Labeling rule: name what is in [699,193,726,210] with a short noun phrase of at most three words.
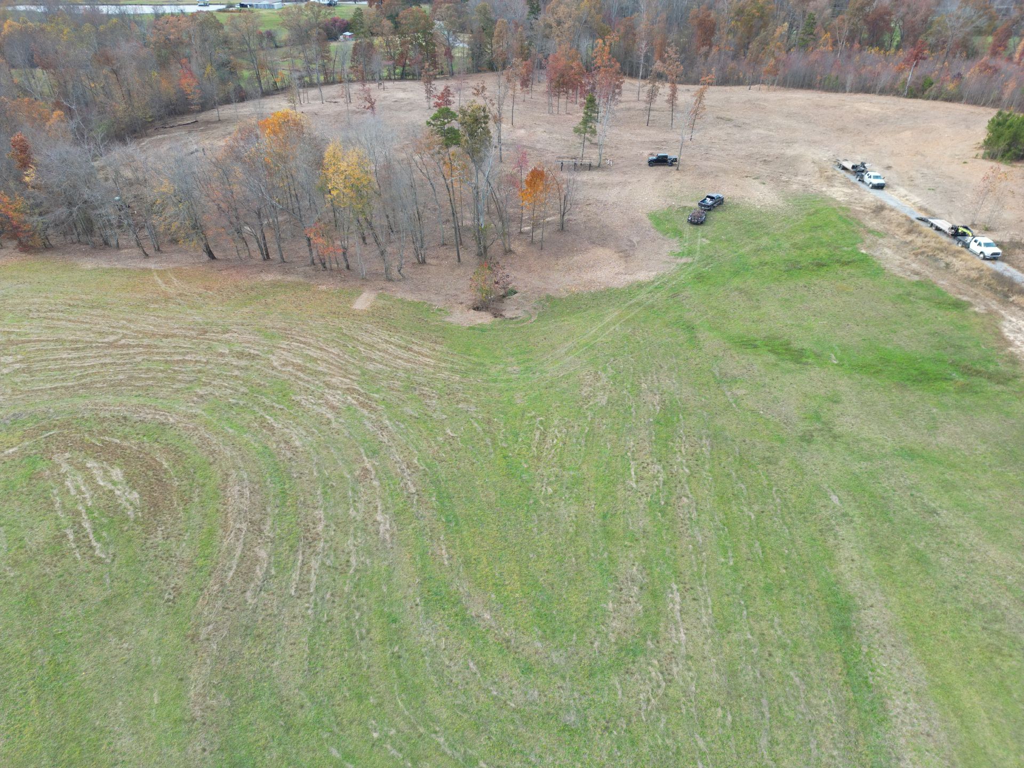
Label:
vehicle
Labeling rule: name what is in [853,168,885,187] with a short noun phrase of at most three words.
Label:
vehicle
